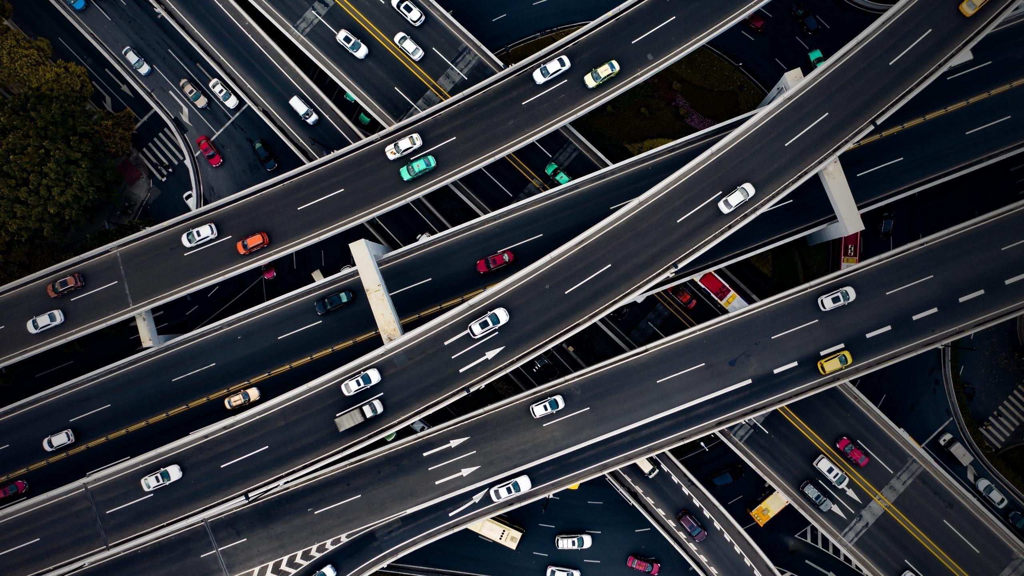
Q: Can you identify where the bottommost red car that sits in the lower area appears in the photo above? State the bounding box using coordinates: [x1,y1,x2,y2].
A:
[625,554,661,576]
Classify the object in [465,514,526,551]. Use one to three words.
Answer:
bus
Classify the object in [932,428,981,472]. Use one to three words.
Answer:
truck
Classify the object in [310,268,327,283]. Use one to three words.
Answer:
vehicle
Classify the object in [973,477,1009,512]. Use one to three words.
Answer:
car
